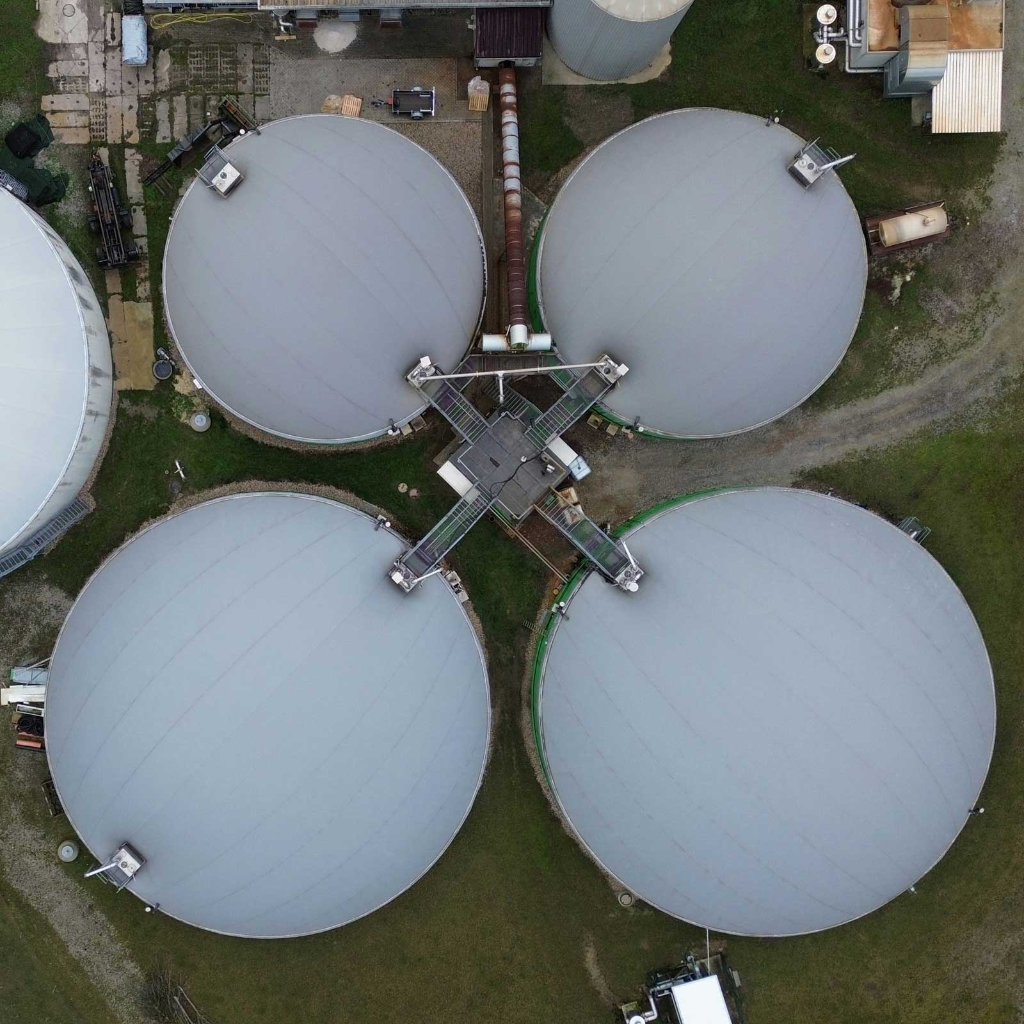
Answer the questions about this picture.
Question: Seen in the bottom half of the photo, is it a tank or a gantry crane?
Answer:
tank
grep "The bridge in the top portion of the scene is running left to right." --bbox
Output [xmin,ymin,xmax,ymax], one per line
[452,351,583,391]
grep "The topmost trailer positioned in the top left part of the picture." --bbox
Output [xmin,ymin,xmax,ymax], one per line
[123,0,151,73]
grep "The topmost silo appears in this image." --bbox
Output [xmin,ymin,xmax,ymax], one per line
[547,0,693,82]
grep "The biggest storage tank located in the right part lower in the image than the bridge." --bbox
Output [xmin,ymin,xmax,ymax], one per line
[532,485,995,939]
